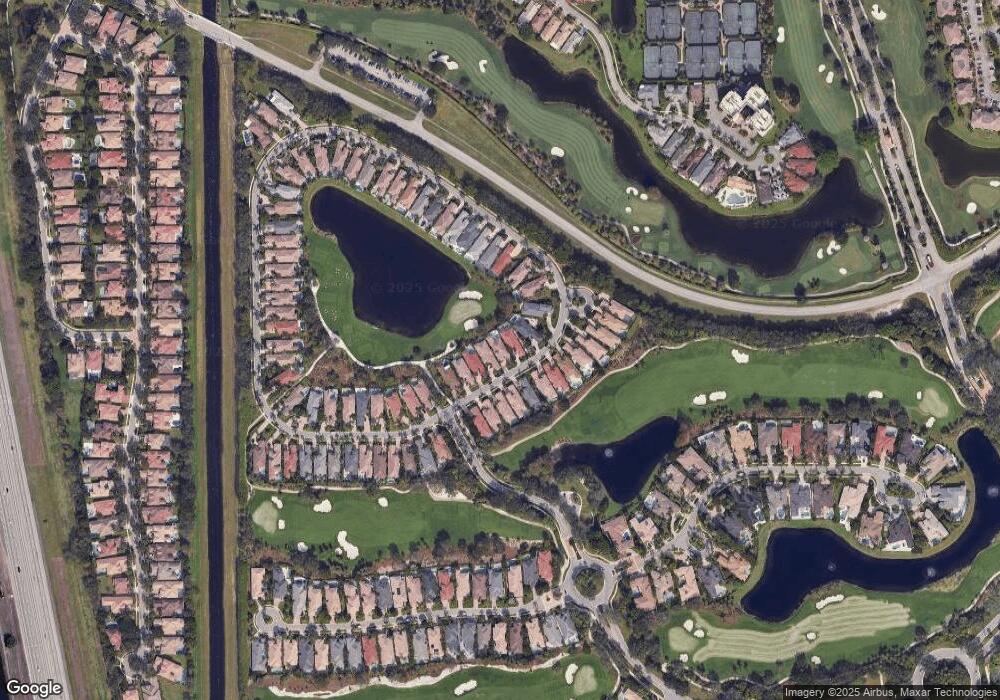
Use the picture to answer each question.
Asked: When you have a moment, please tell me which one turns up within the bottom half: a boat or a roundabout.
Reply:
roundabout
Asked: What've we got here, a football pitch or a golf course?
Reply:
golf course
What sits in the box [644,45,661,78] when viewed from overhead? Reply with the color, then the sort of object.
gray tennis court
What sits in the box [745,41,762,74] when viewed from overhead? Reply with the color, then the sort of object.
gray tennis court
